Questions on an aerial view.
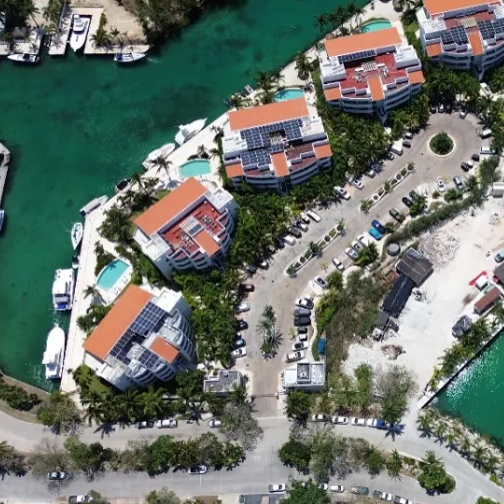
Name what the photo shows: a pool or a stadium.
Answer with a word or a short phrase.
pool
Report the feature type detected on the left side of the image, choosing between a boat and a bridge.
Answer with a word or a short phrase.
boat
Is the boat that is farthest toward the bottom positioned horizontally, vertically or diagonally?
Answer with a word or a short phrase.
vertically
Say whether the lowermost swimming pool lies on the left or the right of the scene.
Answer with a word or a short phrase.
left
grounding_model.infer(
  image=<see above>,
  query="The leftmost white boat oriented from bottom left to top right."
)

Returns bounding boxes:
[77,197,109,218]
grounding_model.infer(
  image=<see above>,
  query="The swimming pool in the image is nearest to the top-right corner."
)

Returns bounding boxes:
[360,19,393,33]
